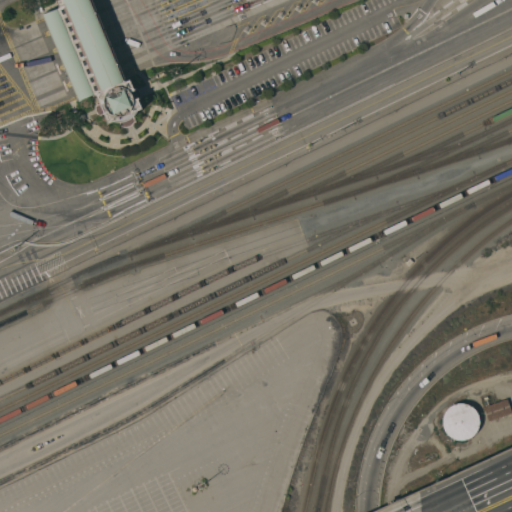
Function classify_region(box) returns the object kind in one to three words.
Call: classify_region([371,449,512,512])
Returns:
overpass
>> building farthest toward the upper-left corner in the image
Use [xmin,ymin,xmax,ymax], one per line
[44,0,124,102]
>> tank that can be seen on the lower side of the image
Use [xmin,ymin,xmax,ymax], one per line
[442,404,480,442]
